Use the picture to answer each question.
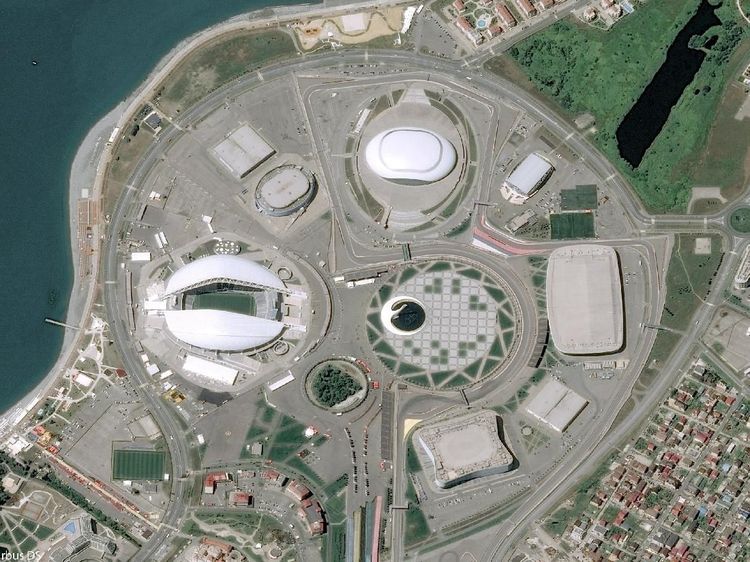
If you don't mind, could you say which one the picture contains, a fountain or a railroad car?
fountain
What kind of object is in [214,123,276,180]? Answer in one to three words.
building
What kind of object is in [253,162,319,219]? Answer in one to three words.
stadium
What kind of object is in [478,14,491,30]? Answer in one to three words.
swimming pool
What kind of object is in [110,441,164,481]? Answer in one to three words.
soccer field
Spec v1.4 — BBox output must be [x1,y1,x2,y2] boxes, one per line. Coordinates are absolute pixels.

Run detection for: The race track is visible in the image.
[301,73,663,562]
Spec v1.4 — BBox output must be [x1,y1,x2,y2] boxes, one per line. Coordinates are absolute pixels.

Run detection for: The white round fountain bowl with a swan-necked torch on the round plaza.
[382,296,426,335]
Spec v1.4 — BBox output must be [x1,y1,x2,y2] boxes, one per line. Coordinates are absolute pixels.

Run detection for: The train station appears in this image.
[346,496,382,562]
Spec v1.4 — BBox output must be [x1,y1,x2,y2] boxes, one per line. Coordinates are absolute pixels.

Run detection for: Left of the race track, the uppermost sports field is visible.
[193,295,256,315]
